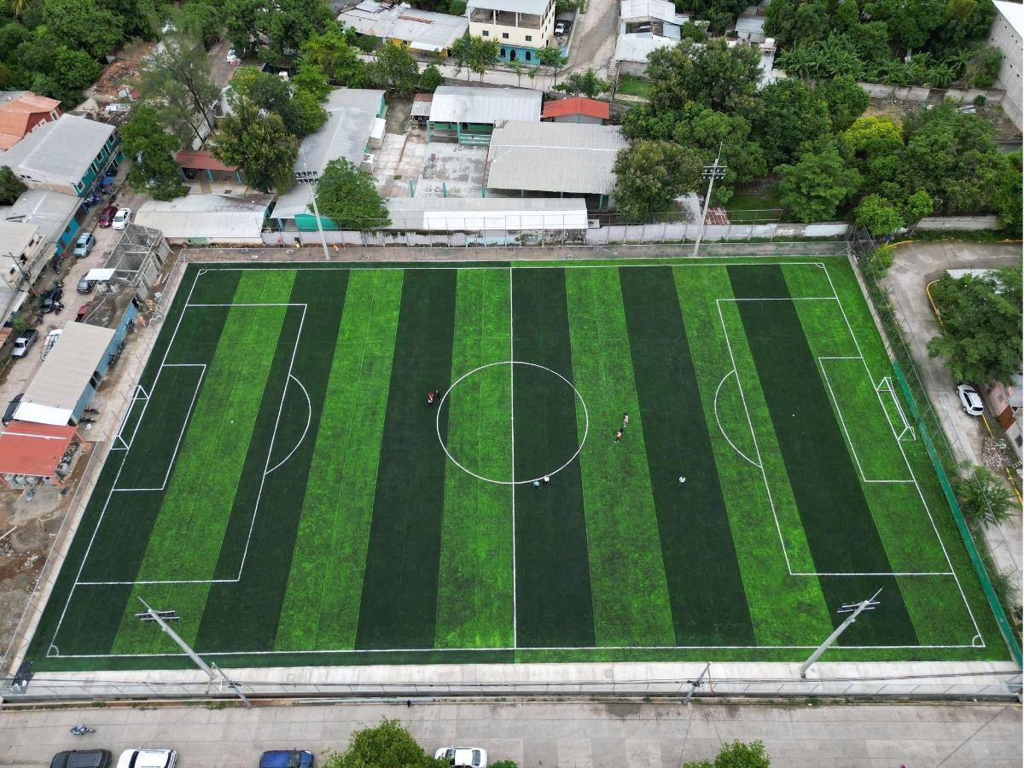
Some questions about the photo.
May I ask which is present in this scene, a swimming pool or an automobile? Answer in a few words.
automobile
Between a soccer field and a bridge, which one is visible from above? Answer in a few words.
soccer field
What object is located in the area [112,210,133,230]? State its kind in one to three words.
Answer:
car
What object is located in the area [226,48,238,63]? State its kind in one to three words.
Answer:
vehicle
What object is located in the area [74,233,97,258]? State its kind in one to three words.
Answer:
car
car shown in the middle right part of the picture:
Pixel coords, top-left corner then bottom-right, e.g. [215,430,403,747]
[954,386,987,417]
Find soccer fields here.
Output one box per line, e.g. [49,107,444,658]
[32,255,1011,668]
